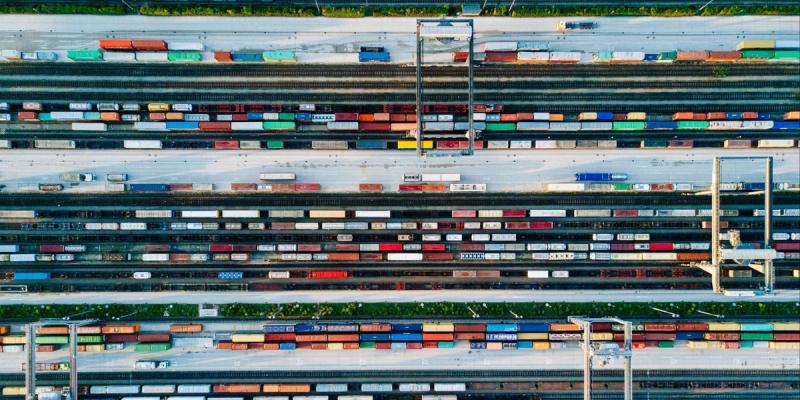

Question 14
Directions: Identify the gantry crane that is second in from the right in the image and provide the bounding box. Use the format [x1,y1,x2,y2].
[561,318,631,400]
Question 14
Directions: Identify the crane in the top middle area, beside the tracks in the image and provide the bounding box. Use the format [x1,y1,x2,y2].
[409,17,476,159]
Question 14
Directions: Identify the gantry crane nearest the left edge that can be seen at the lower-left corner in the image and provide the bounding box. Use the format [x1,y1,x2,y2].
[27,318,115,400]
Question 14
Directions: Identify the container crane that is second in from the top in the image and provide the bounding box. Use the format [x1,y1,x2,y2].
[676,157,784,296]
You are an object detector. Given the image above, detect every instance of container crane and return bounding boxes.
[409,17,476,159]
[561,318,631,400]
[676,157,784,296]
[27,318,115,400]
